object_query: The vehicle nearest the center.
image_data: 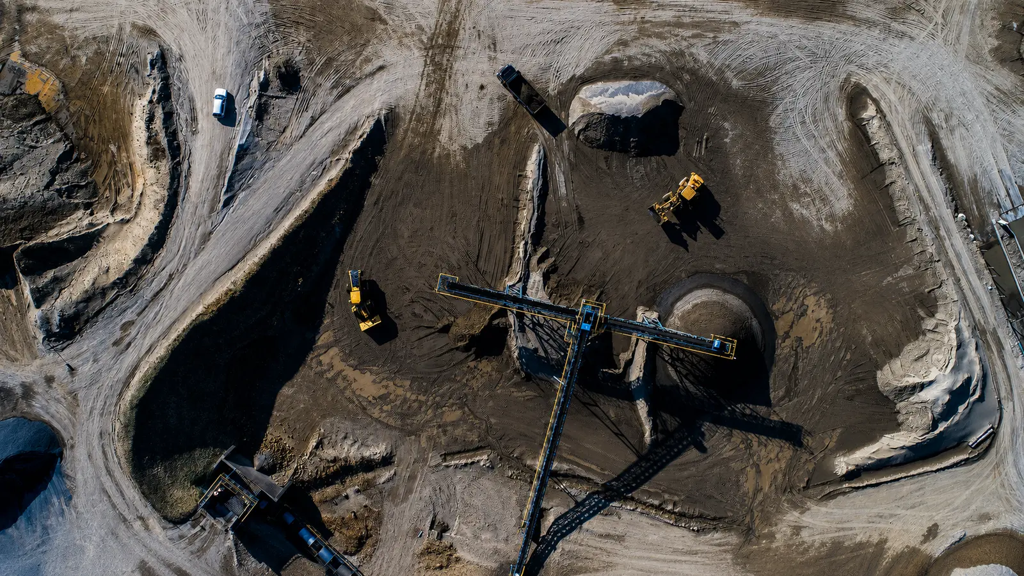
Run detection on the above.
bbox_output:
[346,273,383,335]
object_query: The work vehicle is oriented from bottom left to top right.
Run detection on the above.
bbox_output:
[645,171,705,231]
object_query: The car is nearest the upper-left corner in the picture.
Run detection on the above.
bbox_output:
[211,88,230,120]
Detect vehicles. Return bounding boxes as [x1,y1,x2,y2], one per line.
[496,59,548,116]
[645,171,705,231]
[346,273,383,335]
[211,88,230,120]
